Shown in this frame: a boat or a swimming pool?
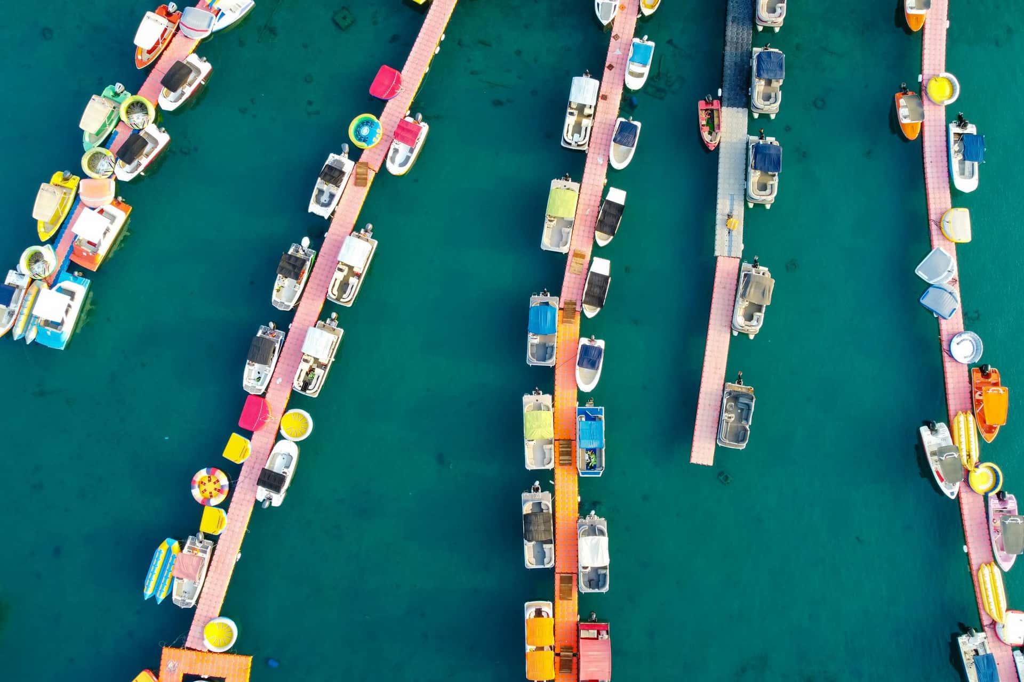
boat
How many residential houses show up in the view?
0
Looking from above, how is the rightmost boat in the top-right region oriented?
up and down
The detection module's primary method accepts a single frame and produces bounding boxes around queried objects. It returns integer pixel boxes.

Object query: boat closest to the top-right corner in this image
[897,0,929,36]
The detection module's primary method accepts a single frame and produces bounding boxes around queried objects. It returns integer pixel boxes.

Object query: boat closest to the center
[527,286,559,368]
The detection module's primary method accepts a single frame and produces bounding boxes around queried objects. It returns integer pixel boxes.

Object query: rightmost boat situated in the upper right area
[947,119,984,195]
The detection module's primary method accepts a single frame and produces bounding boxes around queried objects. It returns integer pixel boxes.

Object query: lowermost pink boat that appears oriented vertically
[579,610,611,682]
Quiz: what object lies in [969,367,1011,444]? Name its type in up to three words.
boat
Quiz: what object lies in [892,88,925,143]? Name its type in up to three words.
boat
